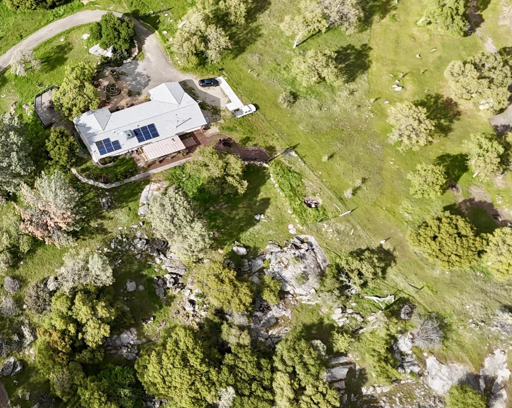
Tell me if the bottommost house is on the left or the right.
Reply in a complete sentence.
The bottommost house sits on the left side.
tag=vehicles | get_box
[198,78,220,88]
[231,106,257,120]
